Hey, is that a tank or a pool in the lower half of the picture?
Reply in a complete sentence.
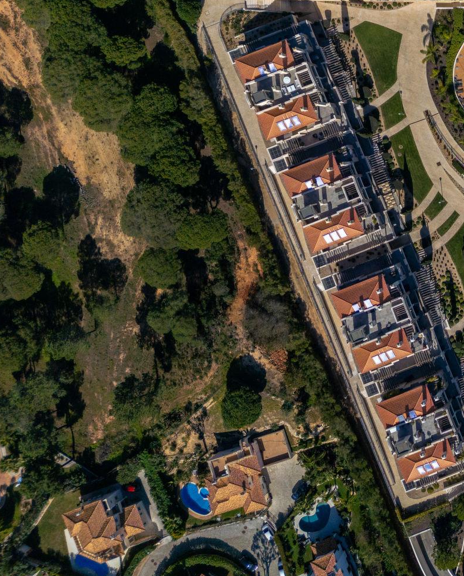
The one visible in the lower half of the picture is a pool.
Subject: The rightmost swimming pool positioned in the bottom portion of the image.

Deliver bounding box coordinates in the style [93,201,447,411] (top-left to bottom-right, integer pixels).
[298,502,332,534]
